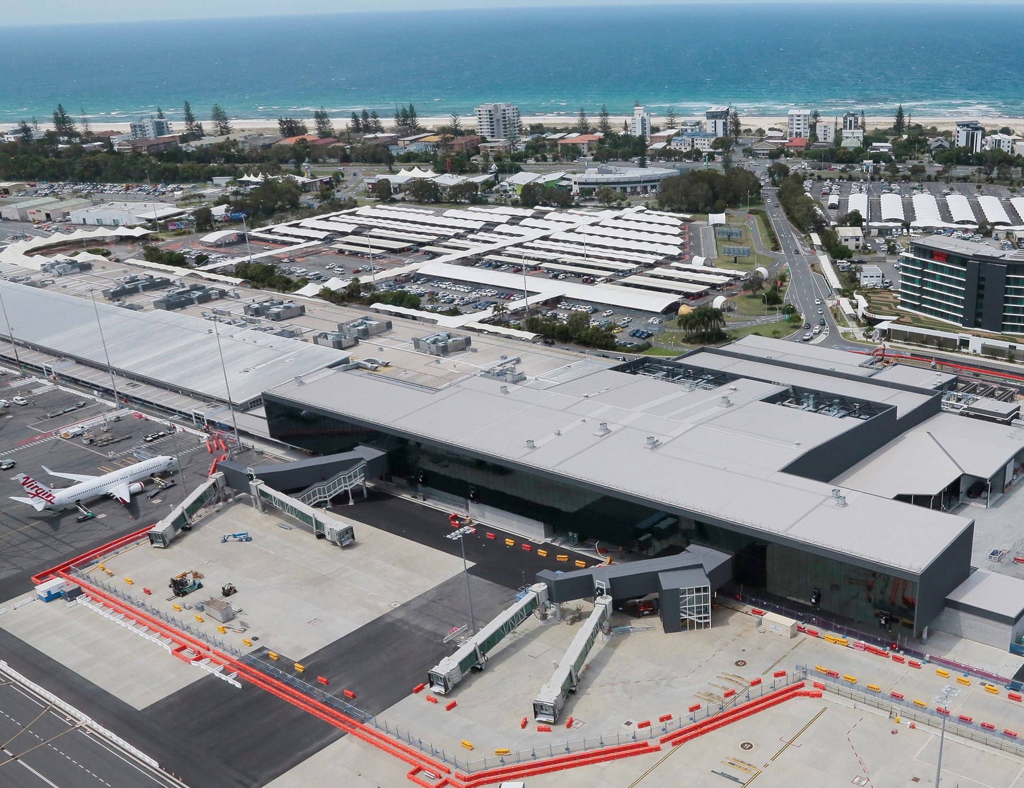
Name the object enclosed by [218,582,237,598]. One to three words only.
work vehicle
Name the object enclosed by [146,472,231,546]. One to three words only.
jet bridge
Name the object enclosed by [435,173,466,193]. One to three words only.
building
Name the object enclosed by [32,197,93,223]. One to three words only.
hangar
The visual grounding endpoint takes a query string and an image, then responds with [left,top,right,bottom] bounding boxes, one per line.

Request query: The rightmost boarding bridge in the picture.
[532,582,616,721]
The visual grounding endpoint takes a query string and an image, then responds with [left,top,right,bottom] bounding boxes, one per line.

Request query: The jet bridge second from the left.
[247,469,358,546]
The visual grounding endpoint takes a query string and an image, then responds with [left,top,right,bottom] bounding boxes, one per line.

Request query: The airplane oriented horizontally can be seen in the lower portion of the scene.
[16,458,177,511]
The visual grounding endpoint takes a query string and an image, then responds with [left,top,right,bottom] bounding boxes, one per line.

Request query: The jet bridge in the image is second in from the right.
[426,582,551,693]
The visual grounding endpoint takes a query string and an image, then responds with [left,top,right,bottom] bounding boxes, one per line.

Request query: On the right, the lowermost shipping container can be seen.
[762,614,797,639]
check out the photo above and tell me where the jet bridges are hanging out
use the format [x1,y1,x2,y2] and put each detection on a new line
[146,472,231,546]
[426,582,551,693]
[532,582,616,721]
[247,469,358,546]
